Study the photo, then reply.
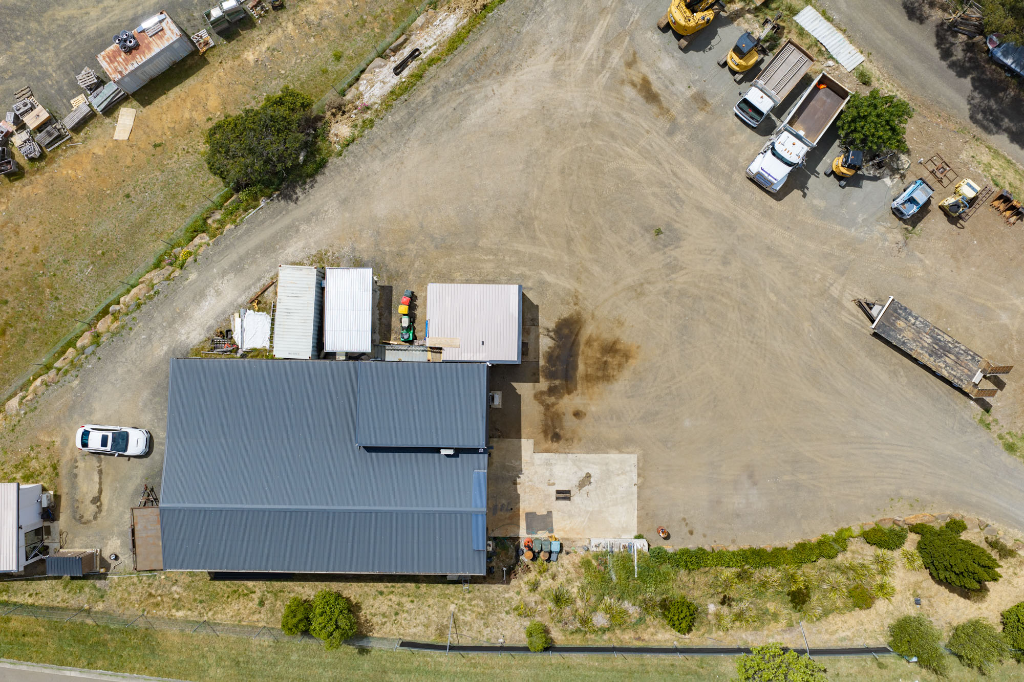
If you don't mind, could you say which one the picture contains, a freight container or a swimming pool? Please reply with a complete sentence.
This aerial view contains a freight container.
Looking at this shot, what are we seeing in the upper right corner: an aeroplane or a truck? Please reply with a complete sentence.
It is a truck that can be seen in the upper right corner.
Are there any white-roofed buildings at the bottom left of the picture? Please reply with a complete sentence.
Yes, at the bottom left of the picture there is a white-roofed building.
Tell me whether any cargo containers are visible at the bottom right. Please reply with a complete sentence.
No, no cargo container can be made out at the bottom right.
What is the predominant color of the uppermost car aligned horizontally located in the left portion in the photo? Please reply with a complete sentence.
The color of the uppermost car aligned horizontally located in the left portion is white.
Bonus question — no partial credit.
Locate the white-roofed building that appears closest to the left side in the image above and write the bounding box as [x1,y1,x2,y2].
[0,483,42,574]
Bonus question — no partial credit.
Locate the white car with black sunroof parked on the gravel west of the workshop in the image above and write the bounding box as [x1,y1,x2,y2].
[75,425,149,458]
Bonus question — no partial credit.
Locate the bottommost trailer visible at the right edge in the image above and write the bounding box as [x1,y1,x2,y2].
[857,295,1010,396]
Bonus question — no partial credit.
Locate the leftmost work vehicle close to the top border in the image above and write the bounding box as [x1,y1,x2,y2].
[656,0,727,54]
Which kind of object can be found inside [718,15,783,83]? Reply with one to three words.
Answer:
work vehicle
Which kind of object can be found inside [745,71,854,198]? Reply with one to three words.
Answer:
truck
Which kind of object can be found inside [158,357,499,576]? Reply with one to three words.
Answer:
building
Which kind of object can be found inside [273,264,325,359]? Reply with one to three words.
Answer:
shipping container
